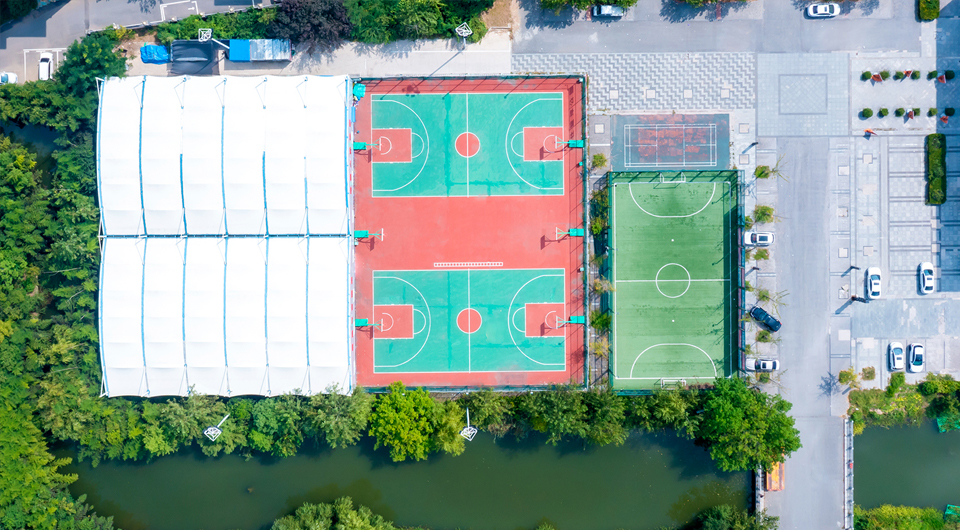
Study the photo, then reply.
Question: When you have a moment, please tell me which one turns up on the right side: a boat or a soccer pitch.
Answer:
soccer pitch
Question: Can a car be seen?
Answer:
Yes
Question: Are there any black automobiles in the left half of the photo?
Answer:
No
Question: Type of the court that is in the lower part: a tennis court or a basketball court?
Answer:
basketball court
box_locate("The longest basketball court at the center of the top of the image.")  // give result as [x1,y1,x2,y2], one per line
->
[372,92,564,197]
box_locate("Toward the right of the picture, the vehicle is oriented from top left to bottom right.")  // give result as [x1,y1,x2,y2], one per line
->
[752,306,784,334]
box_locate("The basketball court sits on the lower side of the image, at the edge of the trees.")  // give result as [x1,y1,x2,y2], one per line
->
[374,267,565,373]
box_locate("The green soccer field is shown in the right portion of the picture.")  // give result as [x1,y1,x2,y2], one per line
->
[606,170,741,389]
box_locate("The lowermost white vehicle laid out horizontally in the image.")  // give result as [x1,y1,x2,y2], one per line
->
[747,358,781,373]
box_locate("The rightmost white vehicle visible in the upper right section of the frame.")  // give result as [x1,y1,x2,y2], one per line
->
[807,2,841,17]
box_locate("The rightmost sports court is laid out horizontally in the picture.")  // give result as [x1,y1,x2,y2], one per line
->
[610,114,730,171]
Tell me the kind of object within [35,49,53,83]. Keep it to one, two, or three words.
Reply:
car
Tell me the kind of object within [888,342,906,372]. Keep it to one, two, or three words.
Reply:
car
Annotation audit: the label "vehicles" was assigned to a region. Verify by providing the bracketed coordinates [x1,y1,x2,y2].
[807,2,841,17]
[0,69,15,84]
[747,358,781,373]
[888,342,906,372]
[592,4,625,18]
[866,267,884,300]
[908,342,926,374]
[752,306,784,334]
[919,262,937,295]
[35,49,53,83]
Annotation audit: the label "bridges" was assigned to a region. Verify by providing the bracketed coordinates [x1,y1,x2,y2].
[756,419,854,530]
